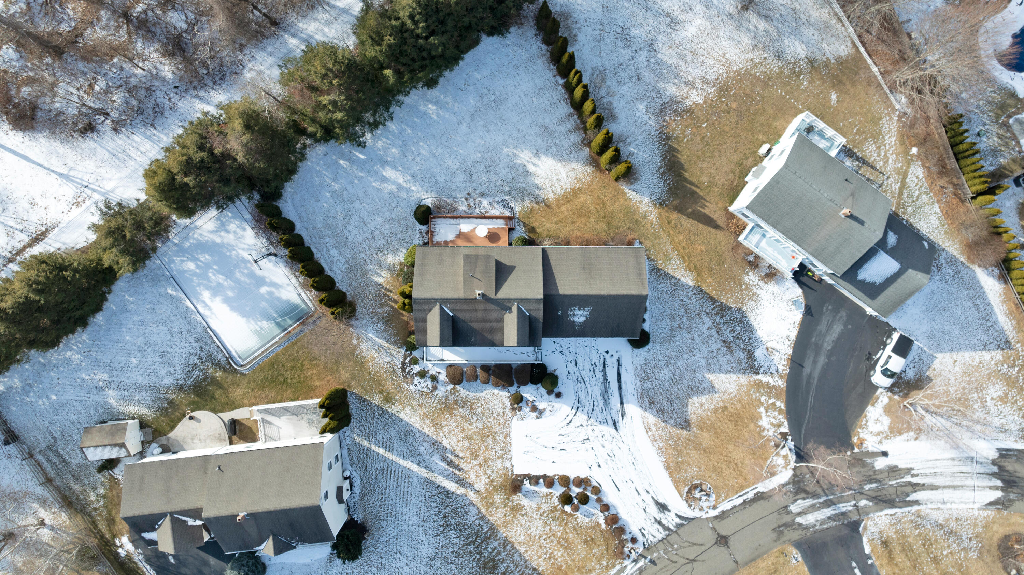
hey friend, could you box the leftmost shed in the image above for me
[80,419,154,461]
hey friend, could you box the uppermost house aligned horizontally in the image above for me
[412,245,648,348]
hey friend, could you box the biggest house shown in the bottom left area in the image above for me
[120,436,353,559]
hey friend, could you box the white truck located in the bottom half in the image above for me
[868,332,913,389]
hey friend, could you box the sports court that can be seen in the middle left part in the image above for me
[157,203,319,368]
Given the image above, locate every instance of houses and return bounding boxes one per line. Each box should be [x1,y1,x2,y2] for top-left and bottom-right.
[731,132,937,318]
[412,245,648,348]
[120,436,353,559]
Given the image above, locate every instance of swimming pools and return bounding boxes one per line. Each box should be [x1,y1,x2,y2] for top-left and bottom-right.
[994,27,1024,74]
